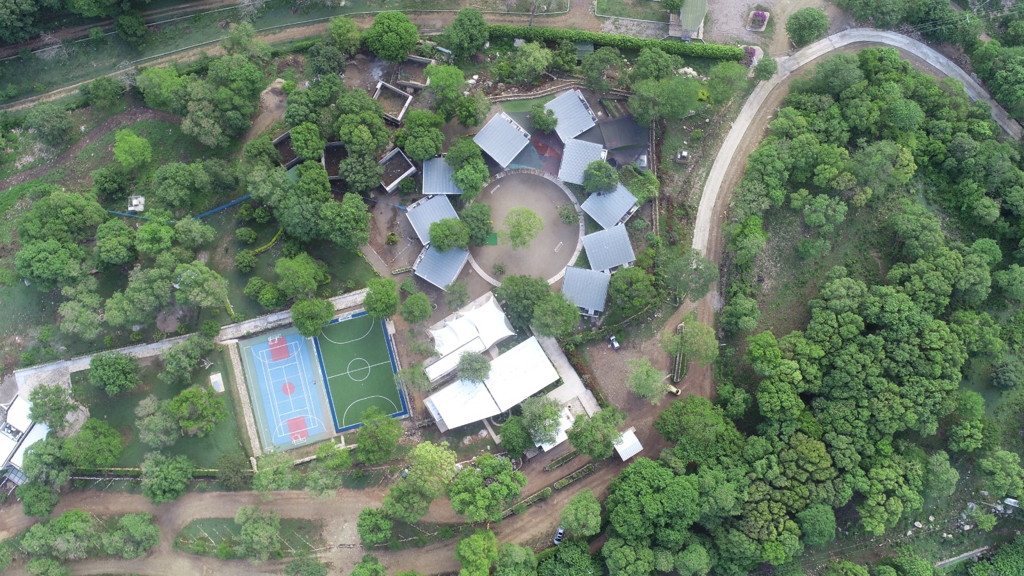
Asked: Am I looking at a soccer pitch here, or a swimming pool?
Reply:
soccer pitch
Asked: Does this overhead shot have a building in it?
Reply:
Yes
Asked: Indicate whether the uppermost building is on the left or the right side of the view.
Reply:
right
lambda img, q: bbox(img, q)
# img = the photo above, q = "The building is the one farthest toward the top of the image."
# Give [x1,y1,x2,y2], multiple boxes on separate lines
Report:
[679,0,709,42]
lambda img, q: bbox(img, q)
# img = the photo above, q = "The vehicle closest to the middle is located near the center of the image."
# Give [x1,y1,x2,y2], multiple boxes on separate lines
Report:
[610,336,622,350]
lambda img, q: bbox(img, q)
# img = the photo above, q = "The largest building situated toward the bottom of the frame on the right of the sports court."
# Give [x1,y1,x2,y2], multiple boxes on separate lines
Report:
[423,336,560,433]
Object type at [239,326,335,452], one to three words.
sports court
